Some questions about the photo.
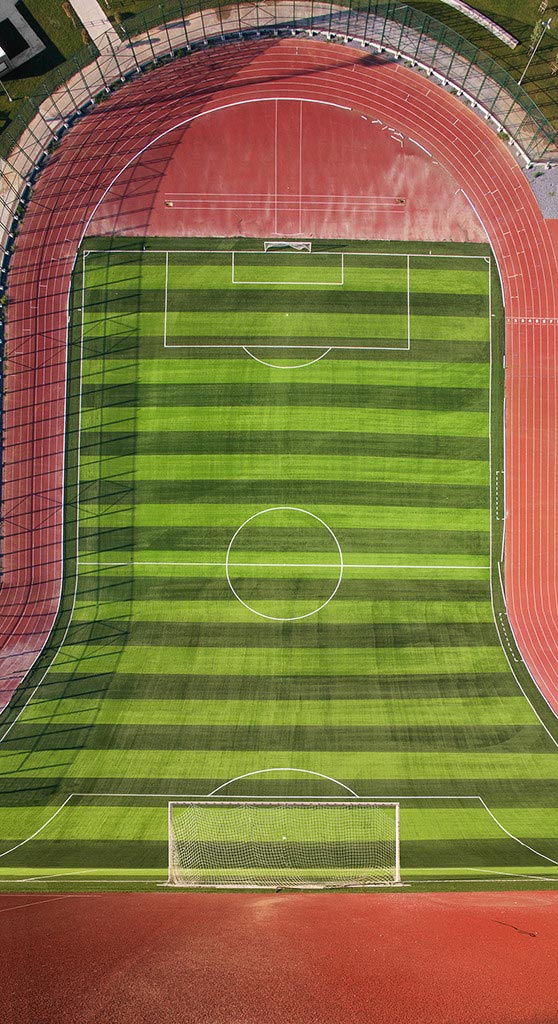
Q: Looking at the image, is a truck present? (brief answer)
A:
No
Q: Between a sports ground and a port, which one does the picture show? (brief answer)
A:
sports ground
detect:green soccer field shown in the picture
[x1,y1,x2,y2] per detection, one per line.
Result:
[0,236,558,893]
